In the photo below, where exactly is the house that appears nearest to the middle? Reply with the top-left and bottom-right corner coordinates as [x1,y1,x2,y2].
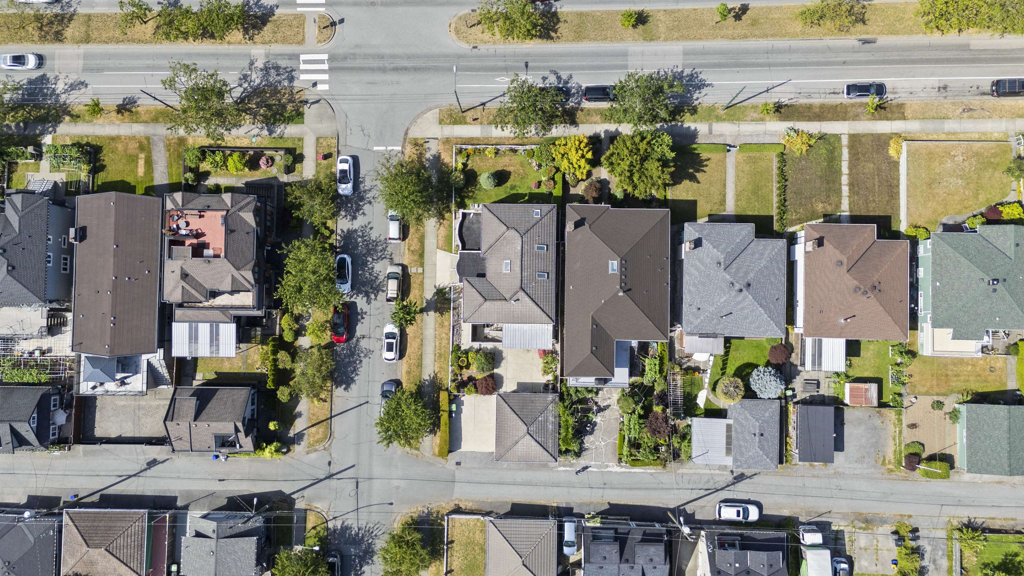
[456,203,557,349]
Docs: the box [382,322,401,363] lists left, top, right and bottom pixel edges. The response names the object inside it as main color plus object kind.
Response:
white car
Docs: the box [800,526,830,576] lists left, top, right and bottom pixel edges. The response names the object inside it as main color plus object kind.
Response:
white truck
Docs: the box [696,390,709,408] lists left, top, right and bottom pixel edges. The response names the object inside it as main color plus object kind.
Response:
white umbrella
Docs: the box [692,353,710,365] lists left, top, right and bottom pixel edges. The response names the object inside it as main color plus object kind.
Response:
white umbrella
